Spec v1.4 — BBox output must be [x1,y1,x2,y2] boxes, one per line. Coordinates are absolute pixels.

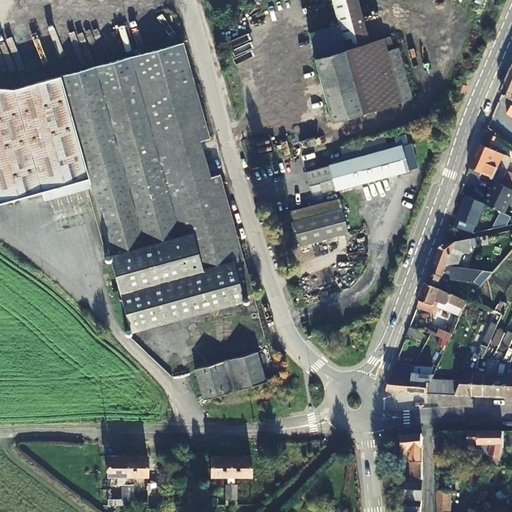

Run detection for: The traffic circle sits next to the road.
[300,350,398,440]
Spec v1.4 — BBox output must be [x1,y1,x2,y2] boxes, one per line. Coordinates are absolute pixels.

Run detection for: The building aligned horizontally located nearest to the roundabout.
[386,378,428,398]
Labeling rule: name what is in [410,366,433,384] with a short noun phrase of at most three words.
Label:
house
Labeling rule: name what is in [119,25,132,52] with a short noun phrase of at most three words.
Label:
vehicle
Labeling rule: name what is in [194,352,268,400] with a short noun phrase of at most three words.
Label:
shed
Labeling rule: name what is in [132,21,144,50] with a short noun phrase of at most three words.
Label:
vehicle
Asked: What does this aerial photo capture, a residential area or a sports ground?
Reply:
residential area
